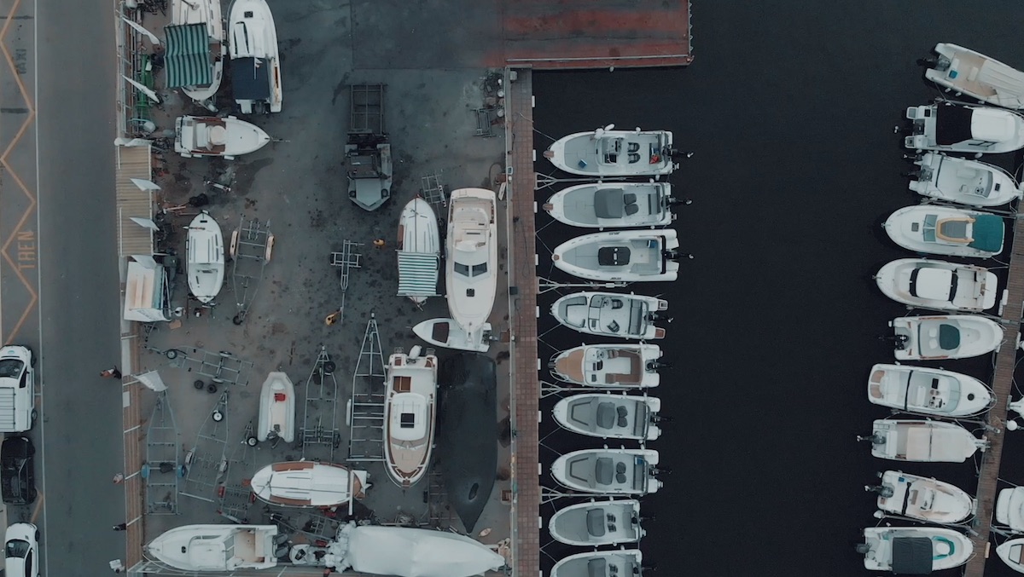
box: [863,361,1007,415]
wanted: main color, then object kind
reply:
white boat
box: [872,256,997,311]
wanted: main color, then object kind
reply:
white boat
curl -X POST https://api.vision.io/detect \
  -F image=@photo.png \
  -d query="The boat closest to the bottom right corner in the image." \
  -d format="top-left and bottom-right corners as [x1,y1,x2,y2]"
[994,535,1024,571]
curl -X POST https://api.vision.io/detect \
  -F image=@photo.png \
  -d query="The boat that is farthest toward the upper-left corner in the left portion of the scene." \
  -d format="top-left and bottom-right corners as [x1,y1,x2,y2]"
[164,0,229,112]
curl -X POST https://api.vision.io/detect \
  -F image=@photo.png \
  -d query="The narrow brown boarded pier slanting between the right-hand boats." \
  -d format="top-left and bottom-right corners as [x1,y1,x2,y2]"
[959,143,1024,577]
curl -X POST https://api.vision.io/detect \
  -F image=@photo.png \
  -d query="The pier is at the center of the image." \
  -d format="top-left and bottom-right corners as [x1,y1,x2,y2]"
[513,70,548,577]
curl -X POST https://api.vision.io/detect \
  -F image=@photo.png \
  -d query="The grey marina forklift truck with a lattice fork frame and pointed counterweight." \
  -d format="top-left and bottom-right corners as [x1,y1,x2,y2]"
[345,83,394,212]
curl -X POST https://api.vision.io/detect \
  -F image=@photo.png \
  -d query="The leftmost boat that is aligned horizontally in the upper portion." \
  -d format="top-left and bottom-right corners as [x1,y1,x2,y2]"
[175,115,289,161]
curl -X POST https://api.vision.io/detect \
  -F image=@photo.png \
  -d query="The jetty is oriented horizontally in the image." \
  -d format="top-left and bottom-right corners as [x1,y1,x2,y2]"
[502,0,695,74]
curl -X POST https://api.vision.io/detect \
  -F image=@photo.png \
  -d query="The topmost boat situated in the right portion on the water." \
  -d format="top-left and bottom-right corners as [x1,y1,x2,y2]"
[919,43,1024,110]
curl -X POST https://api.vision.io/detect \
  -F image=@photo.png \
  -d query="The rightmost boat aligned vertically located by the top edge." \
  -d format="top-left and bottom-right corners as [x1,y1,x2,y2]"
[227,0,285,116]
